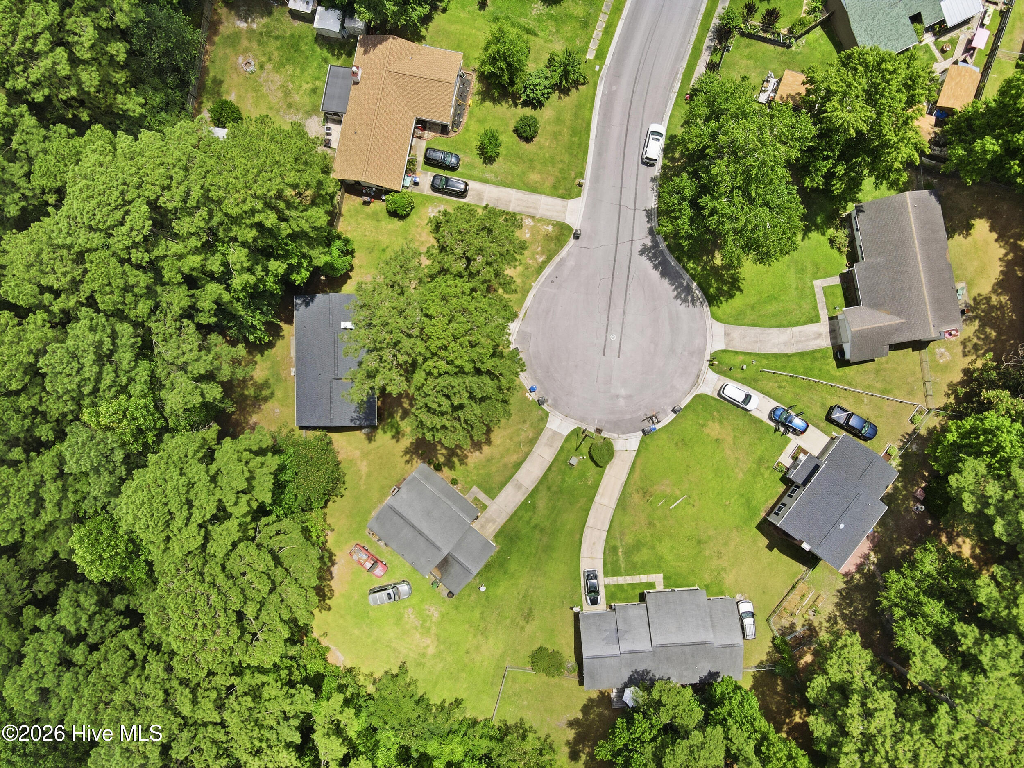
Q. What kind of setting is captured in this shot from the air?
residential area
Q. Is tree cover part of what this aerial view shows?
Yes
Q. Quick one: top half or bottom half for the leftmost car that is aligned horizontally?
bottom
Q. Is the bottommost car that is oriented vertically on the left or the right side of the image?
right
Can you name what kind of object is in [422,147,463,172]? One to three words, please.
car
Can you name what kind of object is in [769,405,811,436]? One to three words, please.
car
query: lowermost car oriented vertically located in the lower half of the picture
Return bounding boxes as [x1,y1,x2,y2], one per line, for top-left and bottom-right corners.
[737,598,759,640]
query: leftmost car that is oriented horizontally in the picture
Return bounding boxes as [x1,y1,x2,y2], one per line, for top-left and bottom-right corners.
[369,580,412,605]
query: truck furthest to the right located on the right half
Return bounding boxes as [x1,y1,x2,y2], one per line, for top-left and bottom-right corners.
[823,403,876,441]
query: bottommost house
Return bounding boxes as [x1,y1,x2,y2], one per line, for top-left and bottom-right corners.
[579,584,743,690]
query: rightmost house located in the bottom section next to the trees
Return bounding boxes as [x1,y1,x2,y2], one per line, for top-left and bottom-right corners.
[769,433,899,571]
